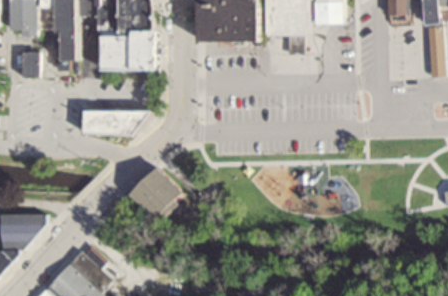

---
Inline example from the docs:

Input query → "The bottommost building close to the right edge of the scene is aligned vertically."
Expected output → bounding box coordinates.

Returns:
[430,26,445,77]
